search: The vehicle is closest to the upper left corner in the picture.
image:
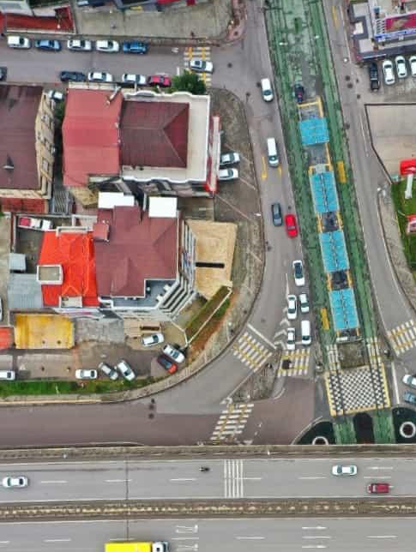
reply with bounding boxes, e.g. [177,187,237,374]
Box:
[6,38,32,51]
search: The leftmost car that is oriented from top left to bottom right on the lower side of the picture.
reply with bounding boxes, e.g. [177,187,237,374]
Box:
[98,361,119,382]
